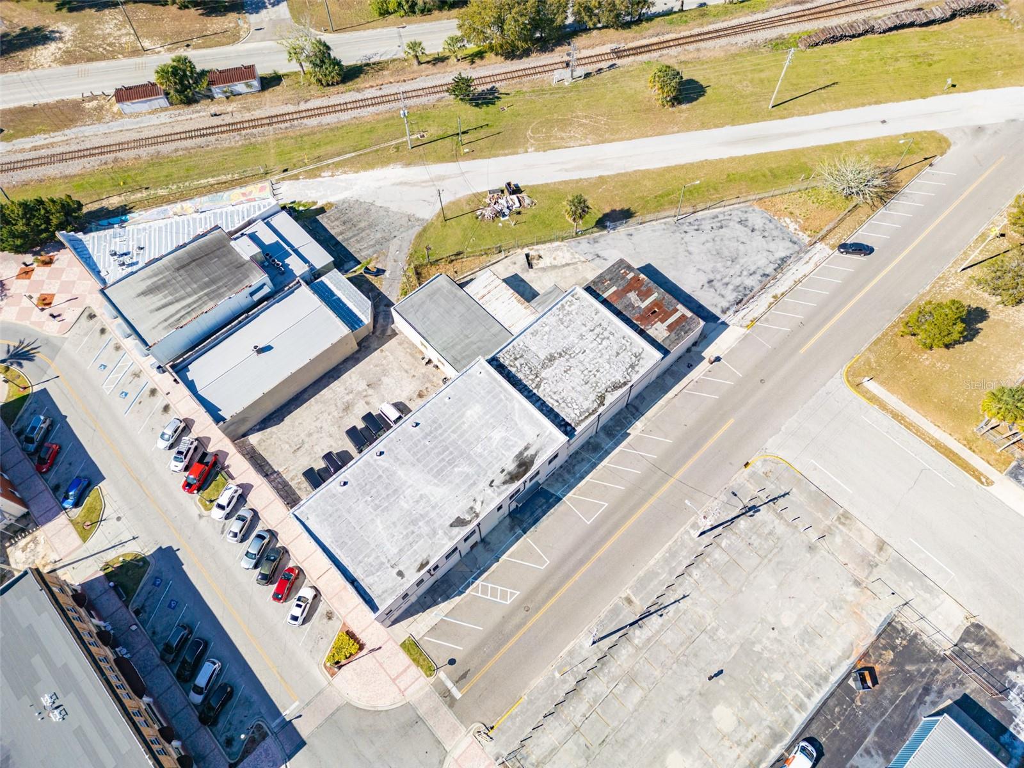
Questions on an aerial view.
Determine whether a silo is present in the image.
No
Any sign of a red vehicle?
Yes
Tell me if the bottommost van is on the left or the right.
right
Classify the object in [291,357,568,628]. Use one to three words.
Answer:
building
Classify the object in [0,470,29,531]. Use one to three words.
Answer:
building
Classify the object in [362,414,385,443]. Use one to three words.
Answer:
vehicle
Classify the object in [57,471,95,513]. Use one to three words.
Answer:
car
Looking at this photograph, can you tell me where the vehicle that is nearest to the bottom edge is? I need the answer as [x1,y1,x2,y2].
[775,726,825,768]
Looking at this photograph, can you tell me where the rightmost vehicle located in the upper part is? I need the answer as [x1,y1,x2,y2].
[837,240,874,257]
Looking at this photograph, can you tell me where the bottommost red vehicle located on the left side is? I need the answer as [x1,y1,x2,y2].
[267,563,302,605]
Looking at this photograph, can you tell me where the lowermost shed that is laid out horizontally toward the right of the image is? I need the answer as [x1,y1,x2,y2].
[885,712,1007,768]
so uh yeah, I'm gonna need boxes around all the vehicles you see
[18,413,54,453]
[775,726,825,768]
[837,240,874,257]
[267,563,302,605]
[346,428,370,456]
[251,542,290,588]
[221,504,257,547]
[322,454,343,479]
[207,481,246,522]
[171,634,212,686]
[194,676,237,731]
[184,656,226,709]
[237,527,274,572]
[152,414,191,452]
[31,439,66,475]
[57,471,95,513]
[178,449,224,497]
[153,618,196,668]
[165,433,203,474]
[283,582,321,630]
[362,414,385,443]
[302,471,324,495]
